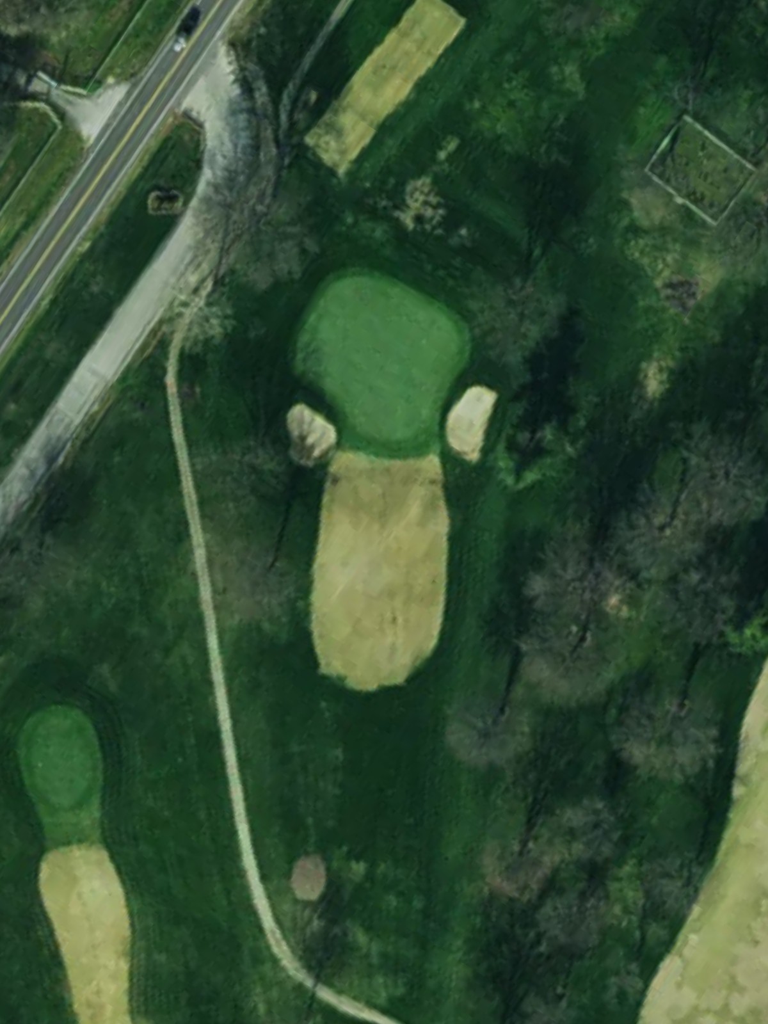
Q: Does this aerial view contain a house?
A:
No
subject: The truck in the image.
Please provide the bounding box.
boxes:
[171,9,202,48]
